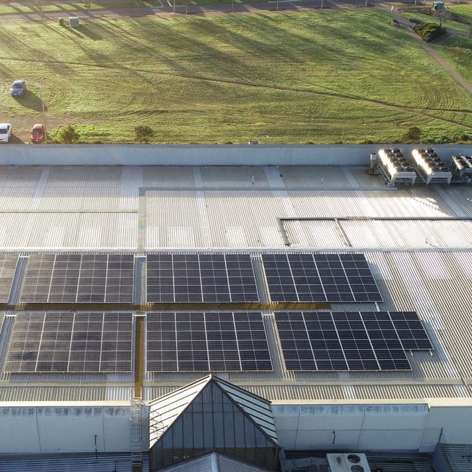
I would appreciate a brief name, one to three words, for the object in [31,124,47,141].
car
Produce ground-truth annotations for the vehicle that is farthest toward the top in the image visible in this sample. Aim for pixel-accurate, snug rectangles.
[9,79,25,95]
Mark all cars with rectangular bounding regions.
[31,124,47,141]
[0,125,13,141]
[9,79,25,95]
